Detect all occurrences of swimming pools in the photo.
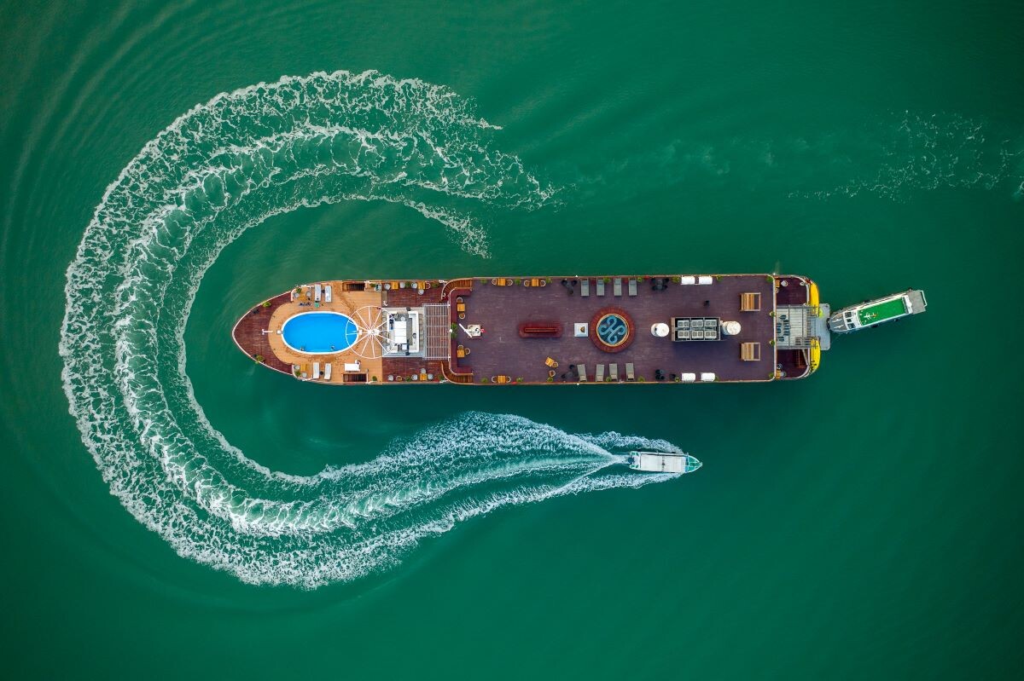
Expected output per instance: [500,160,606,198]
[276,311,362,354]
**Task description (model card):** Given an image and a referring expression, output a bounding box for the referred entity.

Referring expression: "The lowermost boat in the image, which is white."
[627,449,702,474]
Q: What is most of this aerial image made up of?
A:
water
